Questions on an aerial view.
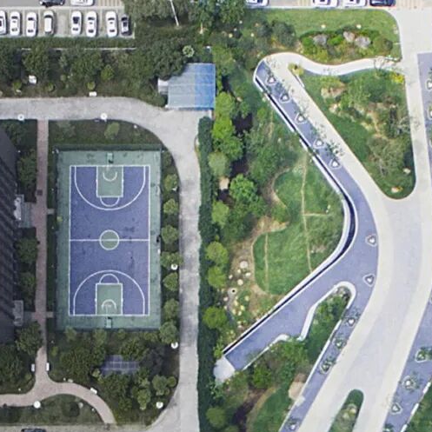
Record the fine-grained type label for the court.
basketball court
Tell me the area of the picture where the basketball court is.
left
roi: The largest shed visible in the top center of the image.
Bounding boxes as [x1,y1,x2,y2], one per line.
[168,64,215,118]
